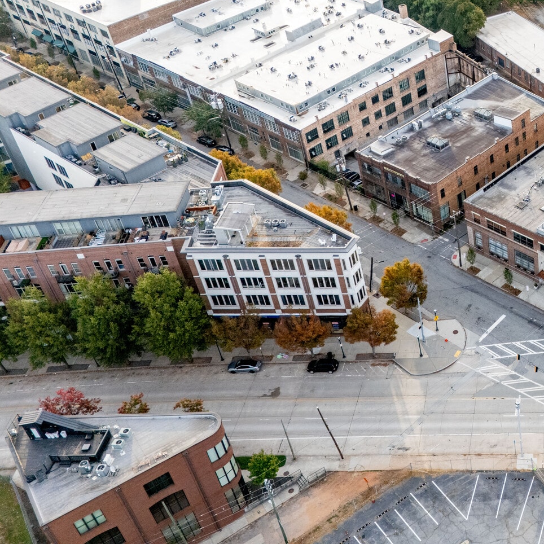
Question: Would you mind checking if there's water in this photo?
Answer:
No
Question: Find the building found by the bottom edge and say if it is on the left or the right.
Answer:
left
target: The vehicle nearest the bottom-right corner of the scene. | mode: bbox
[305,357,340,375]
